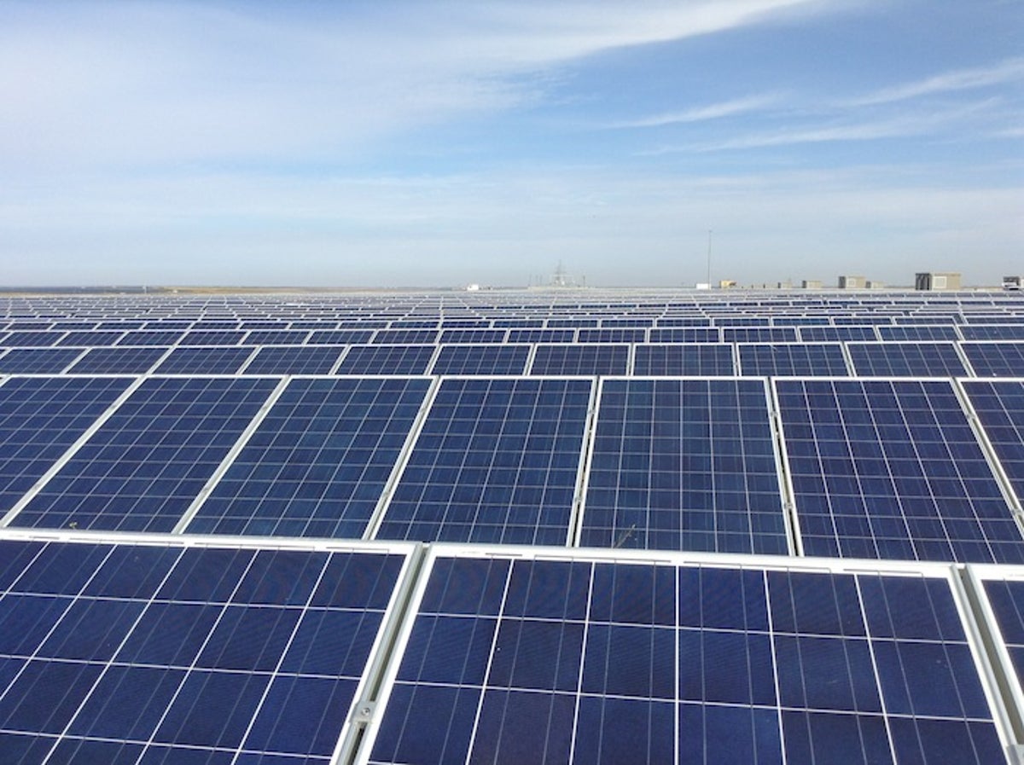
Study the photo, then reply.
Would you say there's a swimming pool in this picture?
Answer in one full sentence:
No, there isn't any swimming pool down there.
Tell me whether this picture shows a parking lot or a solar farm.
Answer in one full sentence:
This looks like a solar farm.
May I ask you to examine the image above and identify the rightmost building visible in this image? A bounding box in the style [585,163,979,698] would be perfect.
[914,272,961,290]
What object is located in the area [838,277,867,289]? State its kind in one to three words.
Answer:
building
